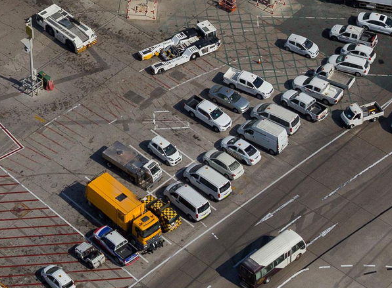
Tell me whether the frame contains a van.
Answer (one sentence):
Yes, you can see a van in this photo.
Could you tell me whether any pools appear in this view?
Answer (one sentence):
No, no pool can be seen from above.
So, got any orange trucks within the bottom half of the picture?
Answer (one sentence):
Yes, an orange truck shows up within the bottom half of the picture.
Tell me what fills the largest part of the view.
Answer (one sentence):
What you mostly see from above here is paved ground.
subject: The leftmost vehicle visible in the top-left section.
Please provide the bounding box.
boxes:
[36,0,99,51]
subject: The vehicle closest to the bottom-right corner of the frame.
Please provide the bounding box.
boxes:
[236,221,314,288]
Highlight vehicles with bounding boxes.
[36,0,99,51]
[87,168,165,252]
[328,20,380,46]
[184,164,233,203]
[163,182,213,222]
[337,99,388,130]
[142,192,188,235]
[146,134,183,165]
[206,82,252,115]
[293,73,346,106]
[340,40,377,64]
[38,265,78,288]
[309,59,361,92]
[283,32,319,58]
[138,14,220,74]
[89,224,142,268]
[354,9,392,38]
[236,221,314,288]
[101,134,165,188]
[224,66,275,99]
[74,240,106,270]
[183,94,232,131]
[279,88,330,122]
[200,149,246,180]
[325,51,371,79]
[218,135,264,166]
[237,119,289,155]
[250,101,302,136]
